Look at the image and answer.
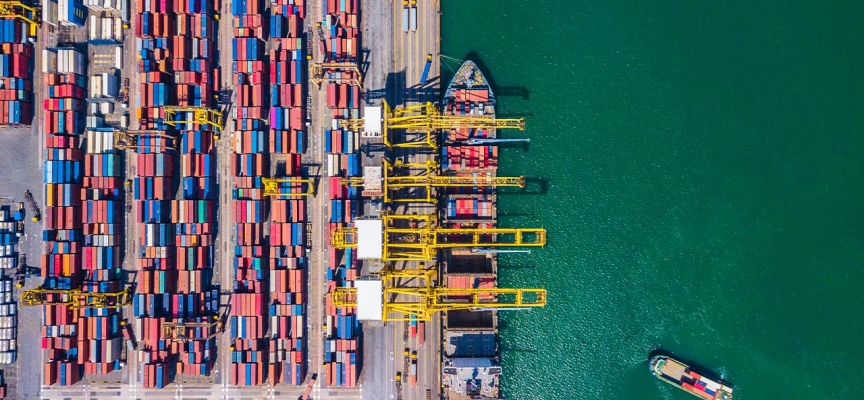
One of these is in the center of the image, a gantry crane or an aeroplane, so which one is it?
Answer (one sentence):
It is a gantry crane that can be seen in the center of the image.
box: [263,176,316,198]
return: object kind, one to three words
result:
crane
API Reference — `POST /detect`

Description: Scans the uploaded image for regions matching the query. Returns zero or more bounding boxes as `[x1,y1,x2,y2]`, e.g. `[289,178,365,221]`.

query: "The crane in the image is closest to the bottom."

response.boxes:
[163,317,231,343]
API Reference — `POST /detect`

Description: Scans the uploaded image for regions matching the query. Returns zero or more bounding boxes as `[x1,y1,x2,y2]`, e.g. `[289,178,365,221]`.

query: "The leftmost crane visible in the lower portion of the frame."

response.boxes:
[22,283,84,309]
